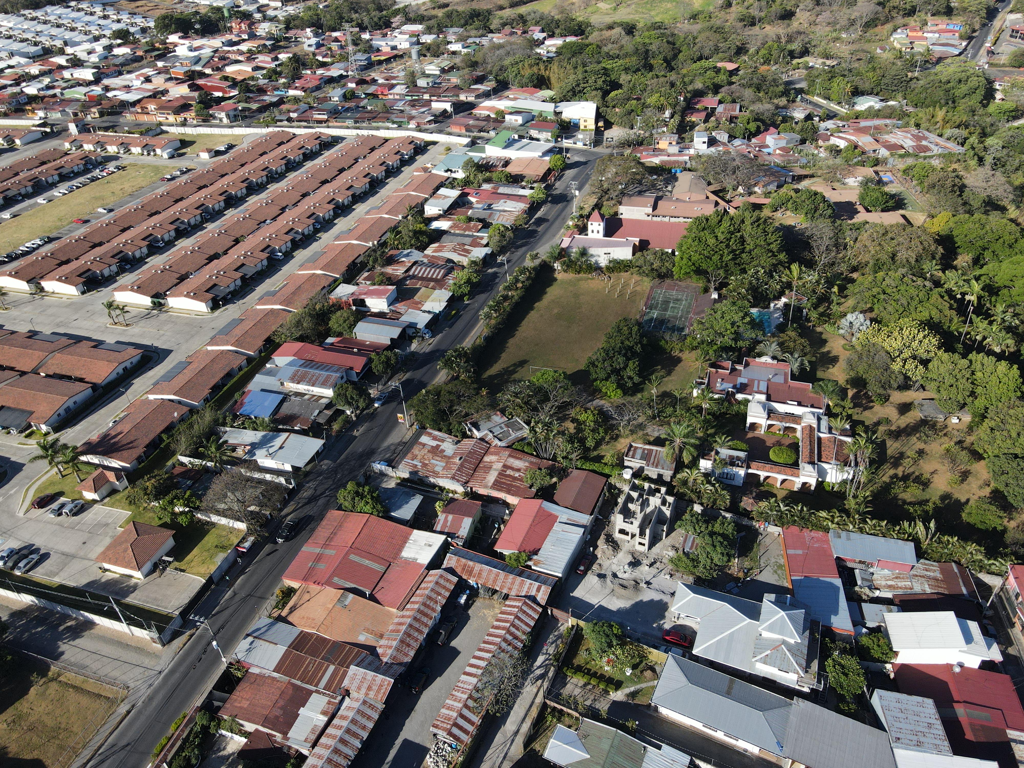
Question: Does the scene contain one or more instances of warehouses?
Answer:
Yes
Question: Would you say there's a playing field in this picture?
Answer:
Yes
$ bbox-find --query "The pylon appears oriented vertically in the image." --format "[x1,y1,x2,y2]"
[342,22,361,74]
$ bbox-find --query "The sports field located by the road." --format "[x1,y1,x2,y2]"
[493,265,674,401]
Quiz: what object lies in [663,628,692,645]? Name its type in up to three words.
car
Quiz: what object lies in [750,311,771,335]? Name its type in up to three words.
swimming pool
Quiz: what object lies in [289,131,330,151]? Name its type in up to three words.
house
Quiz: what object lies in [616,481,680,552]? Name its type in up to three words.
building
